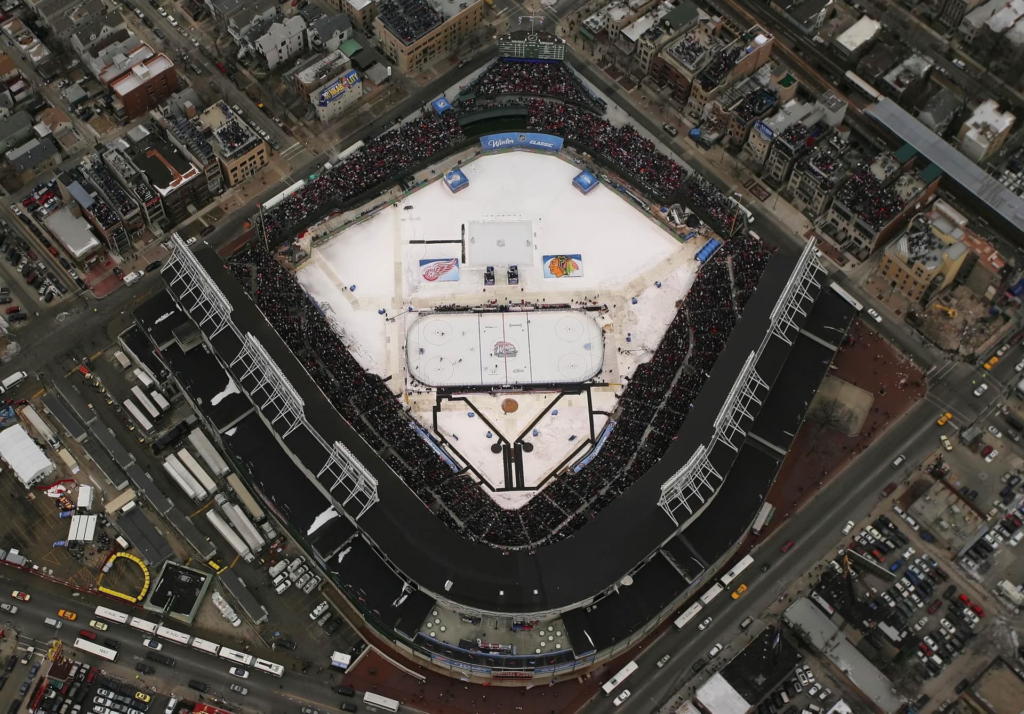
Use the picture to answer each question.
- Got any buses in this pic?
Yes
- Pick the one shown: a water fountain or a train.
train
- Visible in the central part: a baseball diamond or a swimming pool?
baseball diamond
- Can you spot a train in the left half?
No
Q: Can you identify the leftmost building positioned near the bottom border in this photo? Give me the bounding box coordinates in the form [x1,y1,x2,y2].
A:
[44,659,72,680]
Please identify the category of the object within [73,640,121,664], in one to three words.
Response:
bus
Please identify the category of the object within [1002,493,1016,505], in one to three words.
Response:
vehicle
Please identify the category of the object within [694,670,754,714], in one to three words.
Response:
building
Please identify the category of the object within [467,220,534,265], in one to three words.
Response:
sports court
